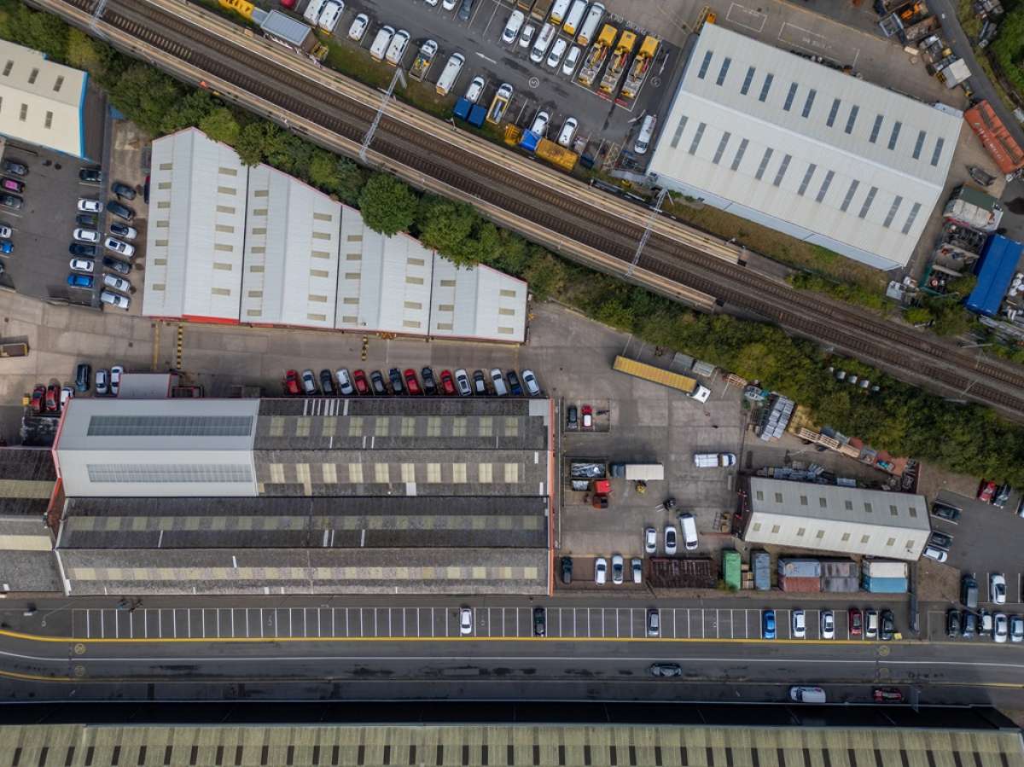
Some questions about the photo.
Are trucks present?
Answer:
Yes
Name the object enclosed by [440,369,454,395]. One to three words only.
car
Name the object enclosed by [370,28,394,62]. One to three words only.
vehicle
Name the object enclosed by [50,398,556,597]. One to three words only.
building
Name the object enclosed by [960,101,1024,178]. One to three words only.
shipping container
